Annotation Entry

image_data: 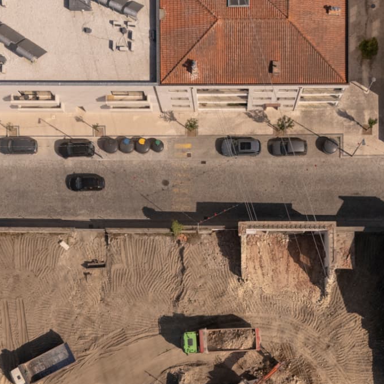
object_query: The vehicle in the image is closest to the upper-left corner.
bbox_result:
[0,137,39,156]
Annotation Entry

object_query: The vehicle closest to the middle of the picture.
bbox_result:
[221,137,263,157]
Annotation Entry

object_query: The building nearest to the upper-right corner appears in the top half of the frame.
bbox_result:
[159,0,349,115]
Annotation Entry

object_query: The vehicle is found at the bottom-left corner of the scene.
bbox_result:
[6,336,80,384]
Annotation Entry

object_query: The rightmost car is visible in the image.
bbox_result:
[272,138,307,157]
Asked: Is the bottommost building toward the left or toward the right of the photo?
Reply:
right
